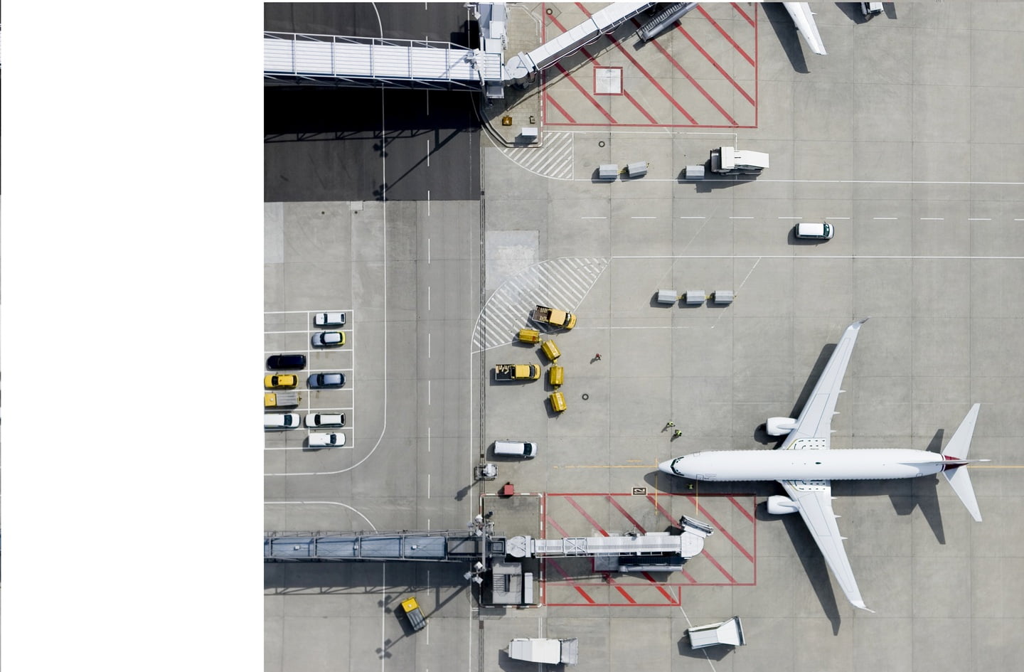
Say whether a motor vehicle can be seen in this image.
Yes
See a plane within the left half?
No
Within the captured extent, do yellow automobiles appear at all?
Yes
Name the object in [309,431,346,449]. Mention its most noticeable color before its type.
white vehicle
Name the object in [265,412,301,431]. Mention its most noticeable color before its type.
white vehicle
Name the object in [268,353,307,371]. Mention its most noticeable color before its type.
black car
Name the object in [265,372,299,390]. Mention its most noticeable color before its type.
yellow car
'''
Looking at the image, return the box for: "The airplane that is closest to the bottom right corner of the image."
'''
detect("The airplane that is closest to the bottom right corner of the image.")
[658,316,990,612]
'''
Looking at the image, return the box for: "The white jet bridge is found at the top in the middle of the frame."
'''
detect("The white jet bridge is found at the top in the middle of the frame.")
[506,0,709,90]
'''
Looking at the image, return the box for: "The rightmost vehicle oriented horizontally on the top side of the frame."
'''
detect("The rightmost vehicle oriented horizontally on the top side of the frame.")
[795,222,833,240]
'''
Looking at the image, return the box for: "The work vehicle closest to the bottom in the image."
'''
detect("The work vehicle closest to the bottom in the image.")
[400,596,428,631]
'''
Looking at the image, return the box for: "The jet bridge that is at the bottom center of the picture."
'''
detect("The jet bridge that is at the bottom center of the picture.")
[507,517,715,572]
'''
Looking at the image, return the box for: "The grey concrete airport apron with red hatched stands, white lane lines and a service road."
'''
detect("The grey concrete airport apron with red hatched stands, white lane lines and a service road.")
[265,0,1024,672]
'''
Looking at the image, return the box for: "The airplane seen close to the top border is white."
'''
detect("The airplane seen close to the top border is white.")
[780,0,820,55]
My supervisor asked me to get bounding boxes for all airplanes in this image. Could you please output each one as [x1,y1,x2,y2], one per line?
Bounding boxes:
[658,316,990,612]
[780,0,820,55]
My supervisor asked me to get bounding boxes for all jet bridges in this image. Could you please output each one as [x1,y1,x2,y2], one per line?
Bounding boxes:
[506,0,709,90]
[507,517,715,572]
